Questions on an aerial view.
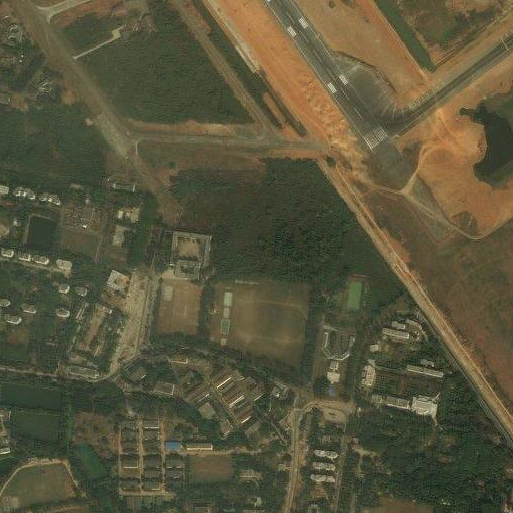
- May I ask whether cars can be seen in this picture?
No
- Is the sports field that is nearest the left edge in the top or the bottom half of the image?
bottom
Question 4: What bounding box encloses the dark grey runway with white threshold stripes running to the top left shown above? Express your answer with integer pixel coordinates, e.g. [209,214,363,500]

[261,0,391,150]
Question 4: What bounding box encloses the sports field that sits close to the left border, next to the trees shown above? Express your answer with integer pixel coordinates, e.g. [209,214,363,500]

[0,458,79,511]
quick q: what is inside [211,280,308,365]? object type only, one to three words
sports field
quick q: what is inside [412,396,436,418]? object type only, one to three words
building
